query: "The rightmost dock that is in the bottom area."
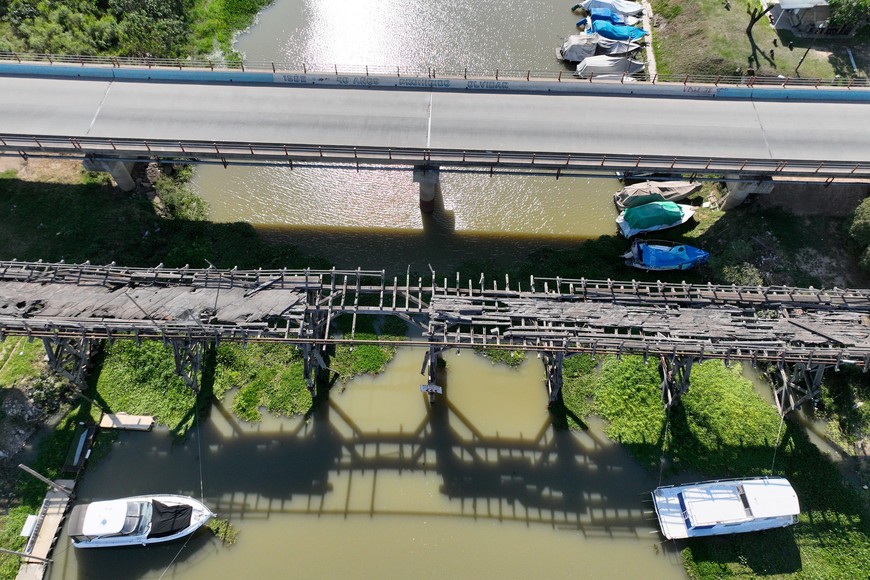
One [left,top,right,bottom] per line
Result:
[99,412,155,428]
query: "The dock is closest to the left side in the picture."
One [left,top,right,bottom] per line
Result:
[23,463,82,580]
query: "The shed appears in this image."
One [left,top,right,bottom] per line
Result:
[753,0,851,52]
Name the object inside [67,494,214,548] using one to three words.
boat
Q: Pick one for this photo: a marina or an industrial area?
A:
marina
